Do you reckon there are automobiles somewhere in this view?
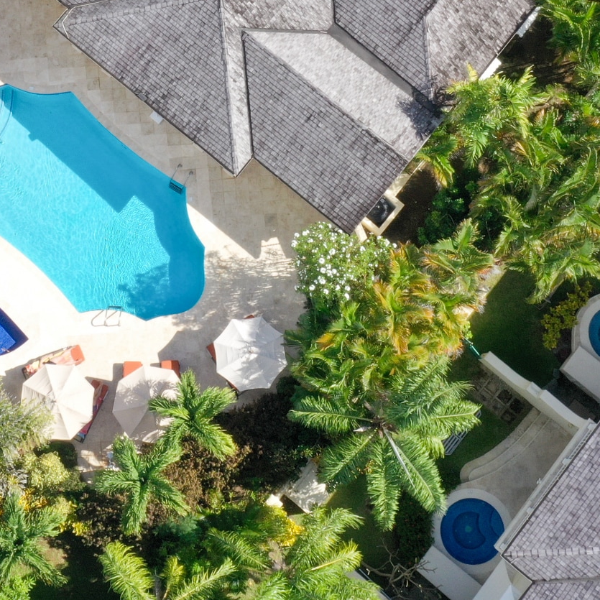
No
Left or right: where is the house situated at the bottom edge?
right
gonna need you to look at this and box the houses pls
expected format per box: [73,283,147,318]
[449,388,600,600]
[52,0,524,232]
